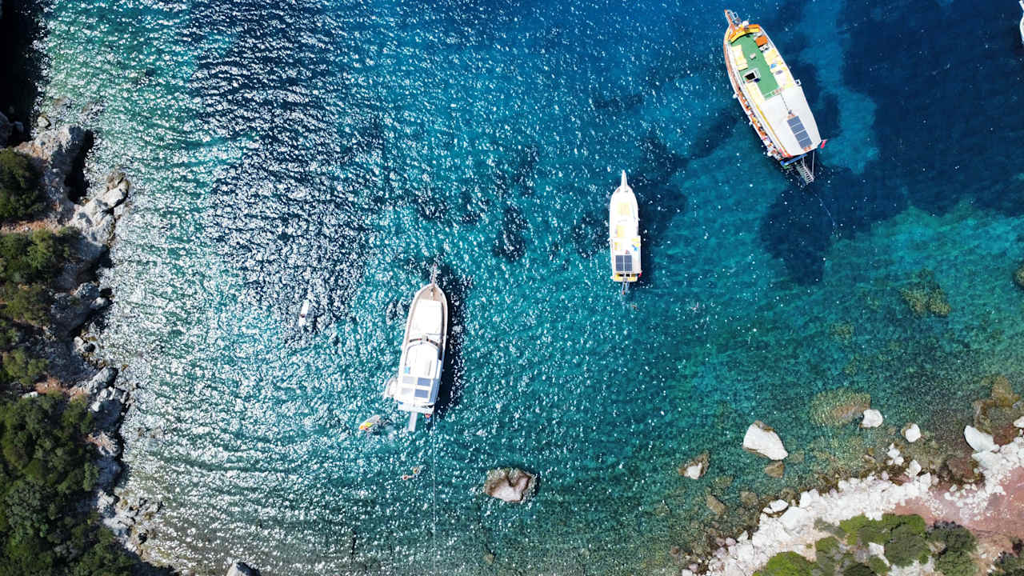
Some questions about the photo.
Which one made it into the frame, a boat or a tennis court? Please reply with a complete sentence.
Visible in the photo is a boat.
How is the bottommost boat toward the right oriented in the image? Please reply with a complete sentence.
The bottommost boat toward the right runs from top to bottom in the image.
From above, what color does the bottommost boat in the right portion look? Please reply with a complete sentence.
The bottommost boat in the right portion looks white in the image.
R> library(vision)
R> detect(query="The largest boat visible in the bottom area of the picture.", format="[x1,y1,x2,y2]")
[395,265,448,436]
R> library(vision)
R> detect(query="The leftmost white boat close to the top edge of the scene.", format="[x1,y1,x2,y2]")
[723,6,830,184]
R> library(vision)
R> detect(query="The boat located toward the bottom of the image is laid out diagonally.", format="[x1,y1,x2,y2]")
[359,415,380,431]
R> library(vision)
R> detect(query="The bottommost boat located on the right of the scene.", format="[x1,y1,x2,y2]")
[607,170,642,294]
